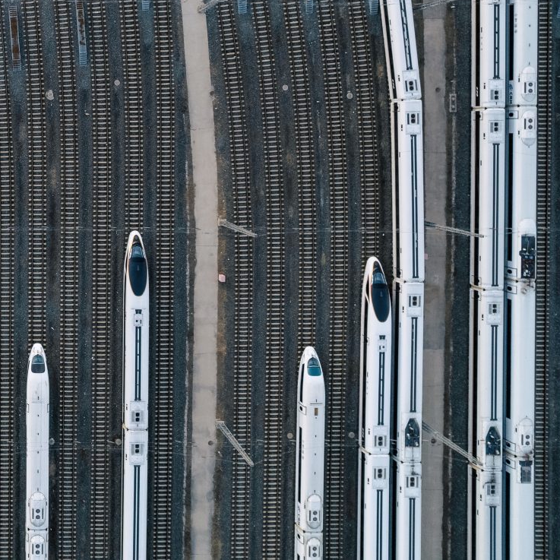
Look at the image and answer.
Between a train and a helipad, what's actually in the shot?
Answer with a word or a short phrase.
train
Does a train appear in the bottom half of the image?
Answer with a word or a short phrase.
Yes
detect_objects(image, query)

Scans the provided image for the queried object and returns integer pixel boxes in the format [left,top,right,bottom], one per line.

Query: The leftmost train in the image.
[24,343,49,560]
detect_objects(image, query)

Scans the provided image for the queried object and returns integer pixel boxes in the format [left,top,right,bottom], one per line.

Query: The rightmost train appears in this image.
[501,0,538,560]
